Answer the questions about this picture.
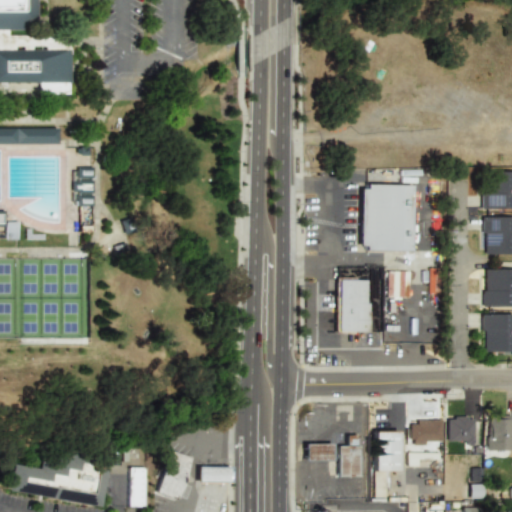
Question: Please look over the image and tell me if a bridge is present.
Yes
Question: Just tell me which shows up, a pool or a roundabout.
pool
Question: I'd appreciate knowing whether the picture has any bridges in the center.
No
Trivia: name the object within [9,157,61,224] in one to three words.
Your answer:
swimming pool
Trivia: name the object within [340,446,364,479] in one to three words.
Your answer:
shed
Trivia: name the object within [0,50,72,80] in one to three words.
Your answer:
building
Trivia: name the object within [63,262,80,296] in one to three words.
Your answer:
sports court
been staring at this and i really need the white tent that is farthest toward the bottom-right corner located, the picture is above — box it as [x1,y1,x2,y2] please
[389,271,412,298]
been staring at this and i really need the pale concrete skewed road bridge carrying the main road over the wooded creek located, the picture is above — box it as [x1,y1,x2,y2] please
[251,16,298,66]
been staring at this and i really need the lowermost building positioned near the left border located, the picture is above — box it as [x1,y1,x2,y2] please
[14,460,110,508]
